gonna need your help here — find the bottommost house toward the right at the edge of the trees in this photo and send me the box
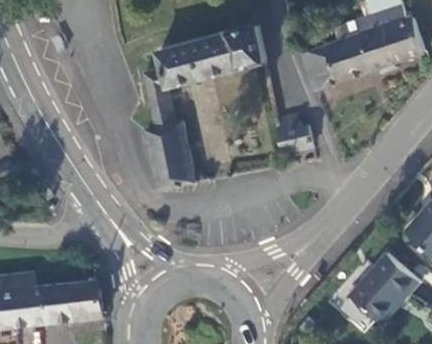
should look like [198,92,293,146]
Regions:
[329,252,420,332]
